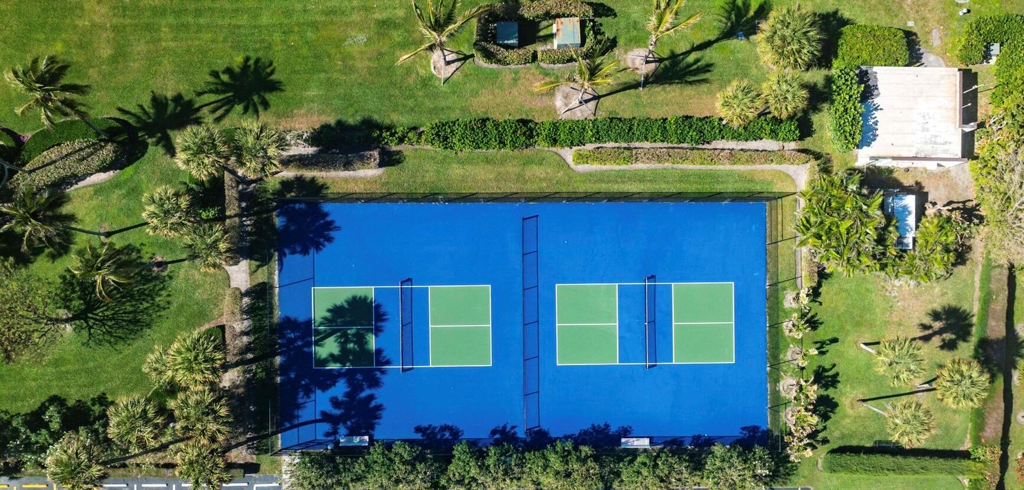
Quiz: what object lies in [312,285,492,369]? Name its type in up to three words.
sports court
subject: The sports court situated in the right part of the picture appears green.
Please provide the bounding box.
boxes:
[556,282,735,366]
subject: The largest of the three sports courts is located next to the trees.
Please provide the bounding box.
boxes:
[278,202,768,449]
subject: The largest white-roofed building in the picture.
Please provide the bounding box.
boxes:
[854,66,981,171]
